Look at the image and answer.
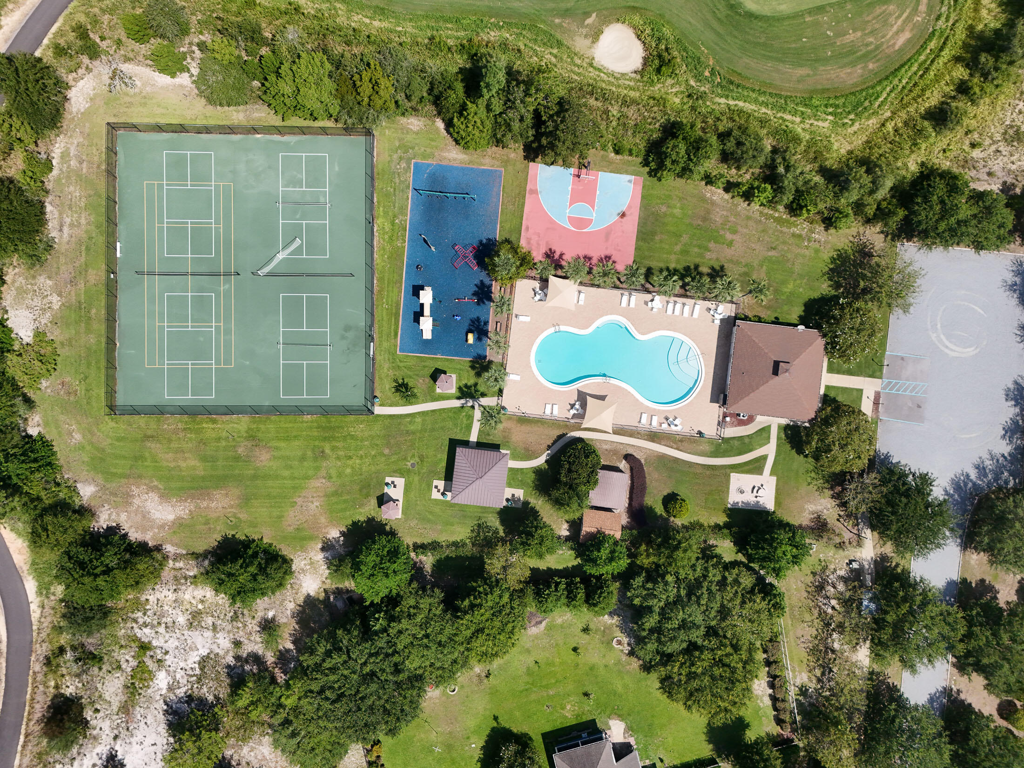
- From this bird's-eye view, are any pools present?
Yes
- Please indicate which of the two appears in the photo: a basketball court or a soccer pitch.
basketball court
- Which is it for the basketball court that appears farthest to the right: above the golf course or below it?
below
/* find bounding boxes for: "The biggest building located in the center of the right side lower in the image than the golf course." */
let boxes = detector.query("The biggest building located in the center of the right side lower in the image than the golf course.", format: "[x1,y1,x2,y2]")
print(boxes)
[723,320,826,421]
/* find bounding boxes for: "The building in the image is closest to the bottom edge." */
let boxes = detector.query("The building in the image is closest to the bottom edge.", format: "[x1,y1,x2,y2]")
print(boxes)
[551,721,645,768]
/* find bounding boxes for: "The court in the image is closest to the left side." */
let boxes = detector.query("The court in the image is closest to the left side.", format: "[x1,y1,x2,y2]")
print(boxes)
[117,132,375,414]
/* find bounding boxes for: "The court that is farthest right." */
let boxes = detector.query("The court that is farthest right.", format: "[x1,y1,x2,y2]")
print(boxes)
[518,162,643,272]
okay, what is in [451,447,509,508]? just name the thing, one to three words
building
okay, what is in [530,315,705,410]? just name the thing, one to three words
swimming pool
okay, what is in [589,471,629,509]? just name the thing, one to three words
shed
